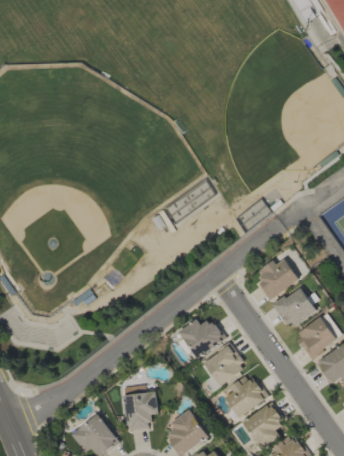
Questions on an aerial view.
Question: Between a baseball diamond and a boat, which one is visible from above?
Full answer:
There is a baseball diamond in the scene.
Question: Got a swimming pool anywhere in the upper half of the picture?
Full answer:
No, in the upper half of the picture there is no swimming pool.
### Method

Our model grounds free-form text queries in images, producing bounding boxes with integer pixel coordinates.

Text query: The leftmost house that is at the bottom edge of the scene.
[74,414,116,456]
